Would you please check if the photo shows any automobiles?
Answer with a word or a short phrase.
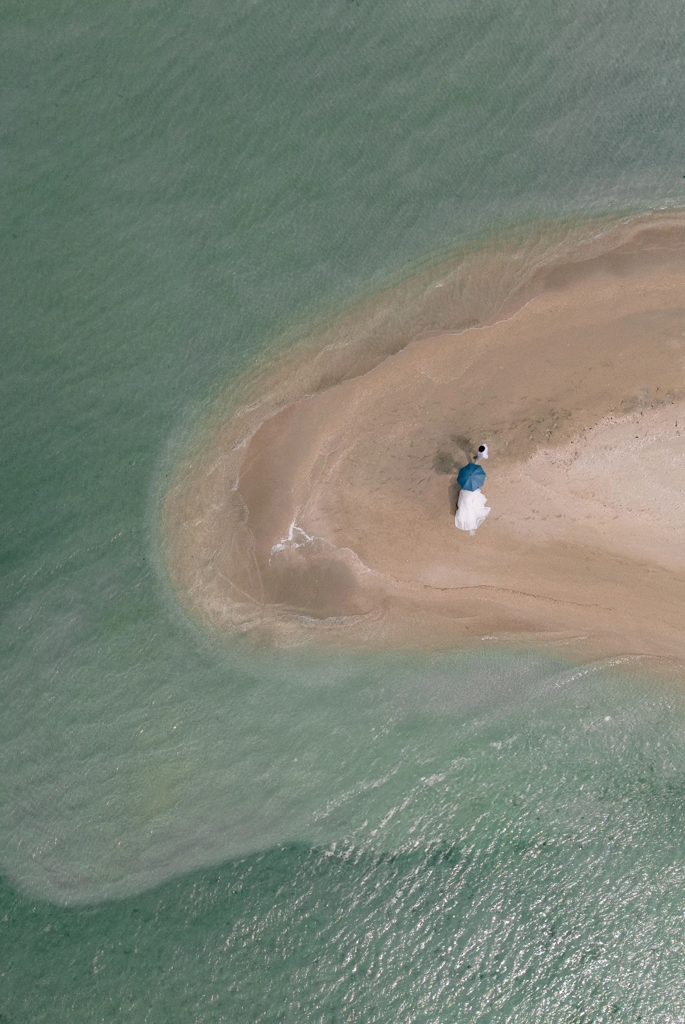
No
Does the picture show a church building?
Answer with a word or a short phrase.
No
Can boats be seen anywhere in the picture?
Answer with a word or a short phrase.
No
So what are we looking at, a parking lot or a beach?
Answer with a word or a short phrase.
beach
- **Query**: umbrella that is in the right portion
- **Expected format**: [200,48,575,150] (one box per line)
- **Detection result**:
[456,464,487,492]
